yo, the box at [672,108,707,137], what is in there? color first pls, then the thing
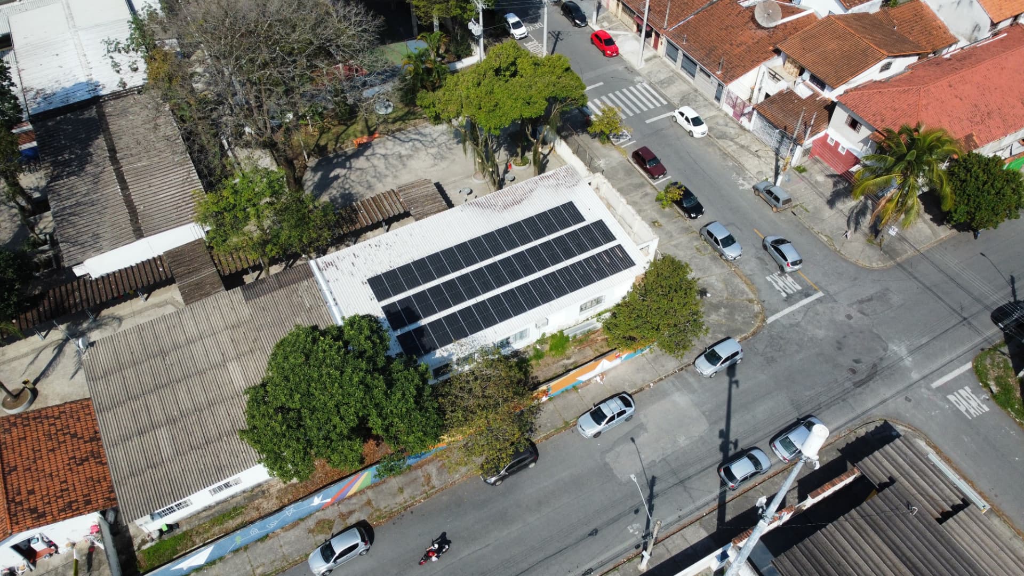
white car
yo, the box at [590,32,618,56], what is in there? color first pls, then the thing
red car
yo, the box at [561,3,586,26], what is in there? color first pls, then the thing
black car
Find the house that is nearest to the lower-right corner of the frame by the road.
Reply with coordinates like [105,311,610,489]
[771,427,1024,576]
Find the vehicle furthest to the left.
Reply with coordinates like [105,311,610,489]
[307,523,377,576]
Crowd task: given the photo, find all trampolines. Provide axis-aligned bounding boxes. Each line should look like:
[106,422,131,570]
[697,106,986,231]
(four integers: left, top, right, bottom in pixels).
[373,101,395,116]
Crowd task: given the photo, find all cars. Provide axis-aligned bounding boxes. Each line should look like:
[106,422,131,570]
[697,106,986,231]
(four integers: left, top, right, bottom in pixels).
[572,96,595,118]
[757,238,807,274]
[561,3,586,26]
[502,12,529,38]
[590,32,618,56]
[307,523,377,576]
[693,340,745,379]
[750,182,795,214]
[631,148,667,180]
[672,108,707,137]
[770,420,809,461]
[709,453,771,496]
[480,442,541,489]
[699,225,741,261]
[990,298,1024,334]
[577,394,636,438]
[671,187,705,221]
